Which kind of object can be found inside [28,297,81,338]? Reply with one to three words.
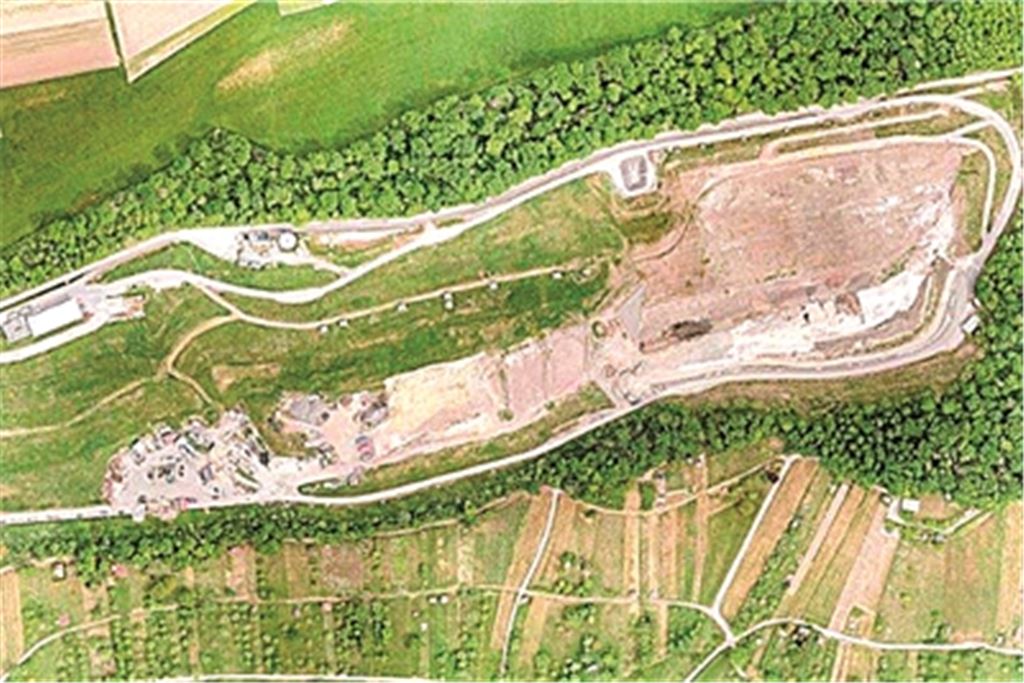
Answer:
building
